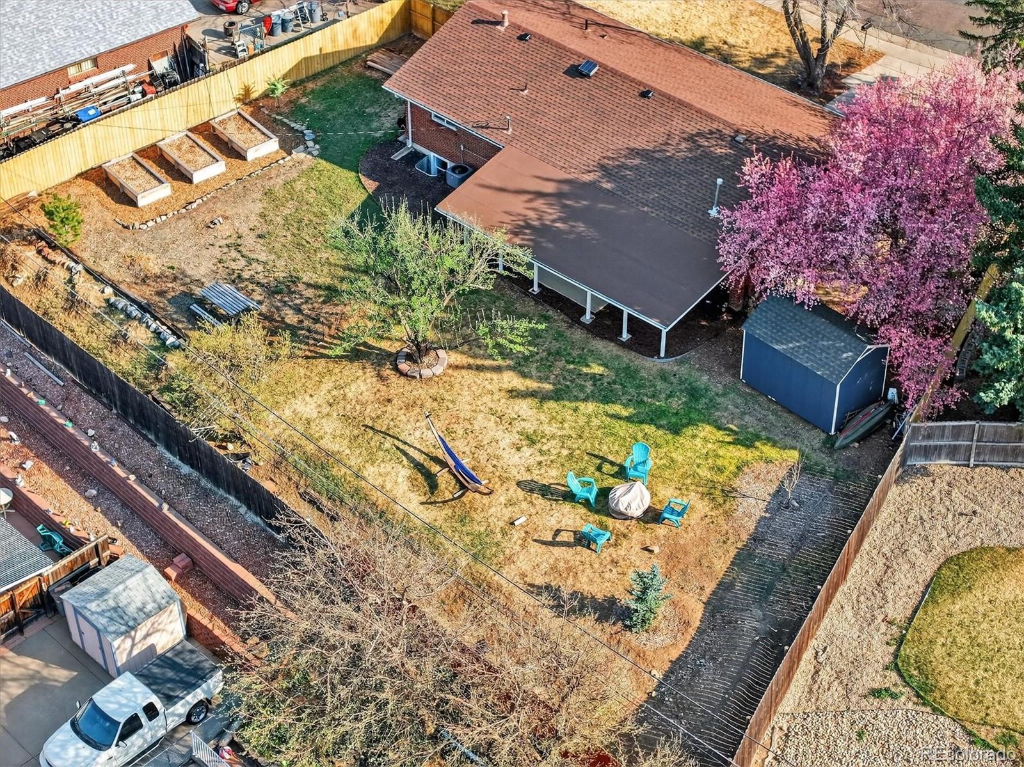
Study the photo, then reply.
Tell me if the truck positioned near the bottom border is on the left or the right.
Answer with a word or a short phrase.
left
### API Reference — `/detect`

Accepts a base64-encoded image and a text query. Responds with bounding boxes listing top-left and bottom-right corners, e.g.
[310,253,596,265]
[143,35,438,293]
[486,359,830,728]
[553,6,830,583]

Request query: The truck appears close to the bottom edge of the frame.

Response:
[33,640,232,767]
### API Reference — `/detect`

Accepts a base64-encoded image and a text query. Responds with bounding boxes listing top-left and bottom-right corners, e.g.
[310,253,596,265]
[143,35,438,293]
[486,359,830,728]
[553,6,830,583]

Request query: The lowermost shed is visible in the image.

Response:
[62,564,186,678]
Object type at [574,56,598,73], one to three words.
solar panel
